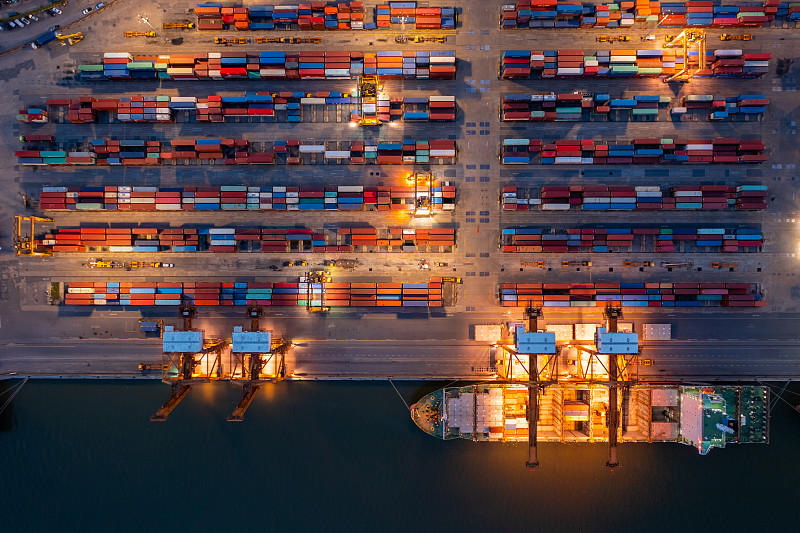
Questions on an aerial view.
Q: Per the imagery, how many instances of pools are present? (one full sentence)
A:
There are no pools in the image.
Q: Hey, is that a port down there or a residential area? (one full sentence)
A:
What you see here is a port.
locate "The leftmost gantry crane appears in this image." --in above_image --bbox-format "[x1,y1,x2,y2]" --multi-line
[15,214,62,256]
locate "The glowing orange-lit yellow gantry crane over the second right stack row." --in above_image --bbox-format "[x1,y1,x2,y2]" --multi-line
[662,30,704,82]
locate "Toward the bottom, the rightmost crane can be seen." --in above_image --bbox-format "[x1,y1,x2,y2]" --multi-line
[569,299,642,472]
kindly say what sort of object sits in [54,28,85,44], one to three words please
work vehicle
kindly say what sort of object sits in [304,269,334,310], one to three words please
container crane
